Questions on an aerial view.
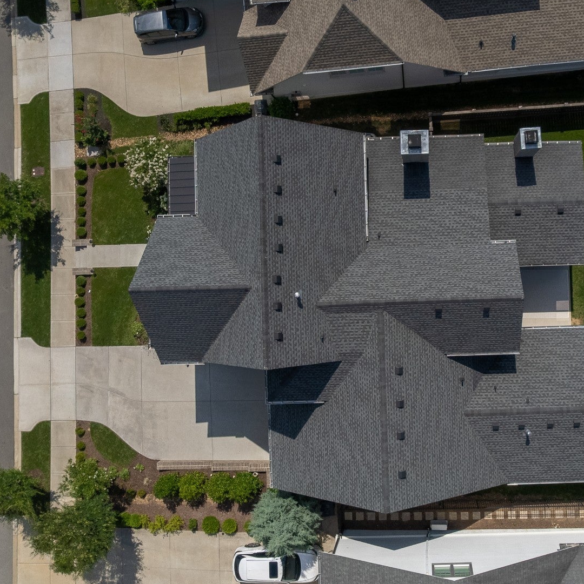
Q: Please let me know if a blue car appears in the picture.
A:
No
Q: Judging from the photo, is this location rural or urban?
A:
urban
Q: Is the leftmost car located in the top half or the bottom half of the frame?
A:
top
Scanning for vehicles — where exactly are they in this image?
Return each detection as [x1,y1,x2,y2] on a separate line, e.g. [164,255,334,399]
[132,5,205,47]
[235,543,317,584]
